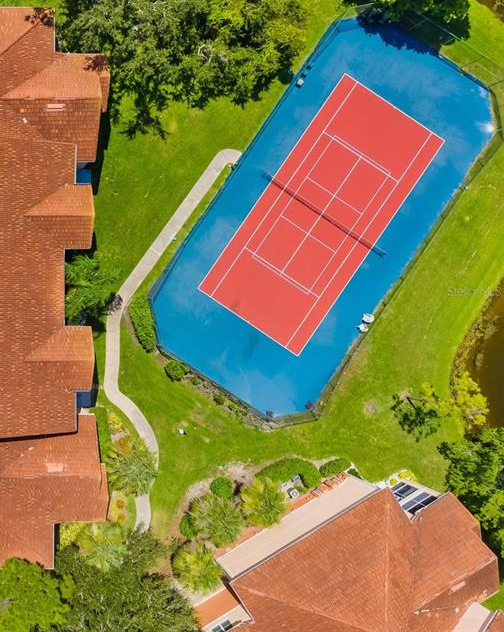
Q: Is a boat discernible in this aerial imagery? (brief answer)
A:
No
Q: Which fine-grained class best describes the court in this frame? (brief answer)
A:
tennis court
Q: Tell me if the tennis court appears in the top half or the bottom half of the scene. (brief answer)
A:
top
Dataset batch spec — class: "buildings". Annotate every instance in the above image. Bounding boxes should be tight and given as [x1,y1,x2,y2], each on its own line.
[192,472,504,632]
[0,6,106,568]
